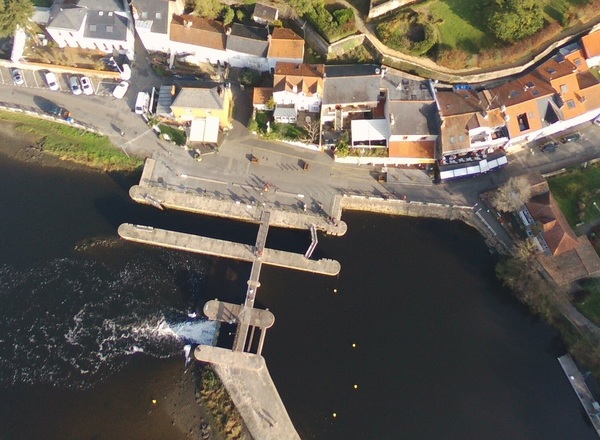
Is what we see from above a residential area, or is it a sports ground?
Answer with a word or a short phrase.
residential area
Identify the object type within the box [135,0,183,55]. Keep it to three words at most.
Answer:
house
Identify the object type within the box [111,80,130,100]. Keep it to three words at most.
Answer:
car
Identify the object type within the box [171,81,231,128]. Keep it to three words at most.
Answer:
house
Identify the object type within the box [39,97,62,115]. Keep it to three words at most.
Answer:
car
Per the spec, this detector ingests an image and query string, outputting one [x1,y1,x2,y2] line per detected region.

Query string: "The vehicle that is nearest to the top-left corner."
[8,65,25,84]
